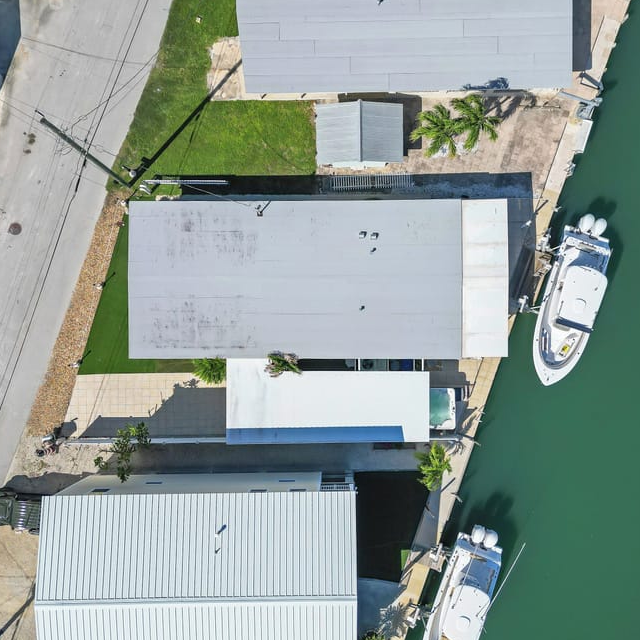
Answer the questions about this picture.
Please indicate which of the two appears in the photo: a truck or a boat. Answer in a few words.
boat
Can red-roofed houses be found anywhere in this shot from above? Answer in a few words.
No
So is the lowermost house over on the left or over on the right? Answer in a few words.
left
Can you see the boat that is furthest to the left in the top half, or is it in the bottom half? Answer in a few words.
bottom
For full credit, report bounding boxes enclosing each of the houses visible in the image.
[34,475,363,640]
[236,0,576,98]
[127,198,508,359]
